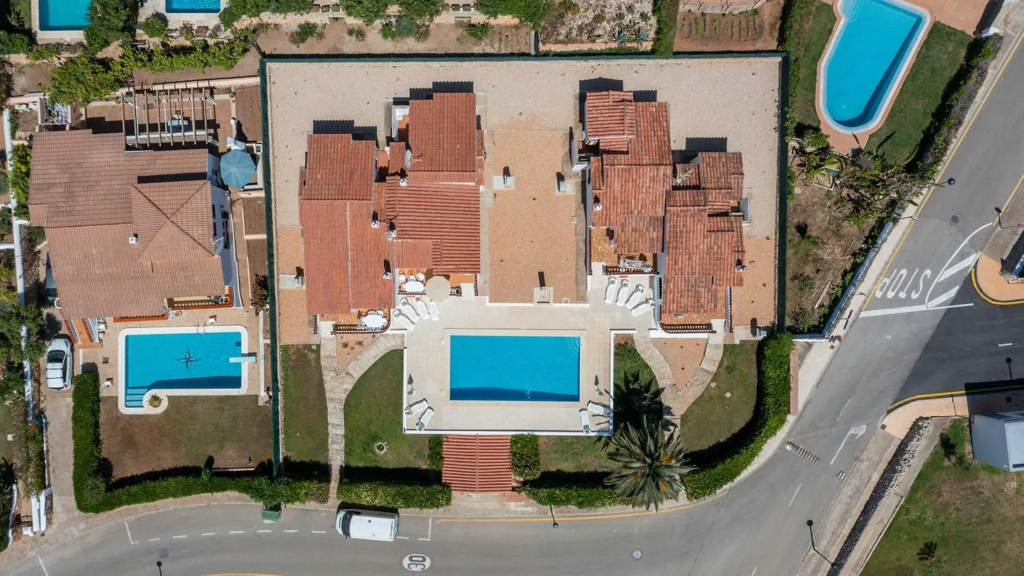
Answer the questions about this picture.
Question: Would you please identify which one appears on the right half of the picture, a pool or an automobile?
pool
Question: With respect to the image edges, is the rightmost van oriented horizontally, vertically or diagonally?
horizontally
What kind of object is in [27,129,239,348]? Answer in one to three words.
house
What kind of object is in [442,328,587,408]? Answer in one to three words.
swimming pool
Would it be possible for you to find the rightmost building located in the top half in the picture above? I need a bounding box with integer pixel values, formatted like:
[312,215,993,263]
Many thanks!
[570,91,751,343]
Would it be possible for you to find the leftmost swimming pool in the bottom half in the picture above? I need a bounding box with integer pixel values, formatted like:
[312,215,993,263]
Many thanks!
[119,326,248,414]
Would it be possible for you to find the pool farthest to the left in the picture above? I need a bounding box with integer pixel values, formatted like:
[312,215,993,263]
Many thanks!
[37,0,93,33]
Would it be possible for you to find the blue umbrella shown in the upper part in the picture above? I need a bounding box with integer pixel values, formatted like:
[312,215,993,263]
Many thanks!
[222,150,259,187]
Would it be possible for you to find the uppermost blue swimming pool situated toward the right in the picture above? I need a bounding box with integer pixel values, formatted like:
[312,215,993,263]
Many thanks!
[817,0,936,136]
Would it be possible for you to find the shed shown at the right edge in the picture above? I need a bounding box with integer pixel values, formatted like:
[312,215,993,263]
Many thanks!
[974,410,1024,472]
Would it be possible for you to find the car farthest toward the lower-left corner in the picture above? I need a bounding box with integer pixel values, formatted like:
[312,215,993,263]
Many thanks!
[44,335,78,391]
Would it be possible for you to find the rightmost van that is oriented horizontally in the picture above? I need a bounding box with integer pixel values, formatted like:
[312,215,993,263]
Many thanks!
[333,505,403,543]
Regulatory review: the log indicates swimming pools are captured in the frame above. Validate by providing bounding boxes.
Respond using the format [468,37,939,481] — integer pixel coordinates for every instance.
[442,328,587,408]
[119,326,248,414]
[164,0,222,15]
[817,0,936,136]
[37,0,93,33]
